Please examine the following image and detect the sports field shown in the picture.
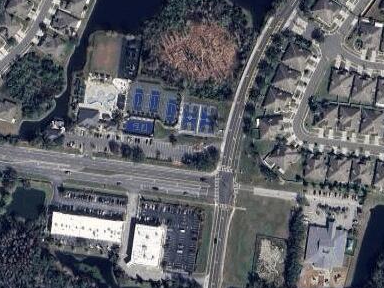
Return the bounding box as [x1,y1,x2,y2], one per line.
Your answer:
[89,32,121,76]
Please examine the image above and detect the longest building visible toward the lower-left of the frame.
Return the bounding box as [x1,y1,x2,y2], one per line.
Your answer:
[51,212,123,242]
